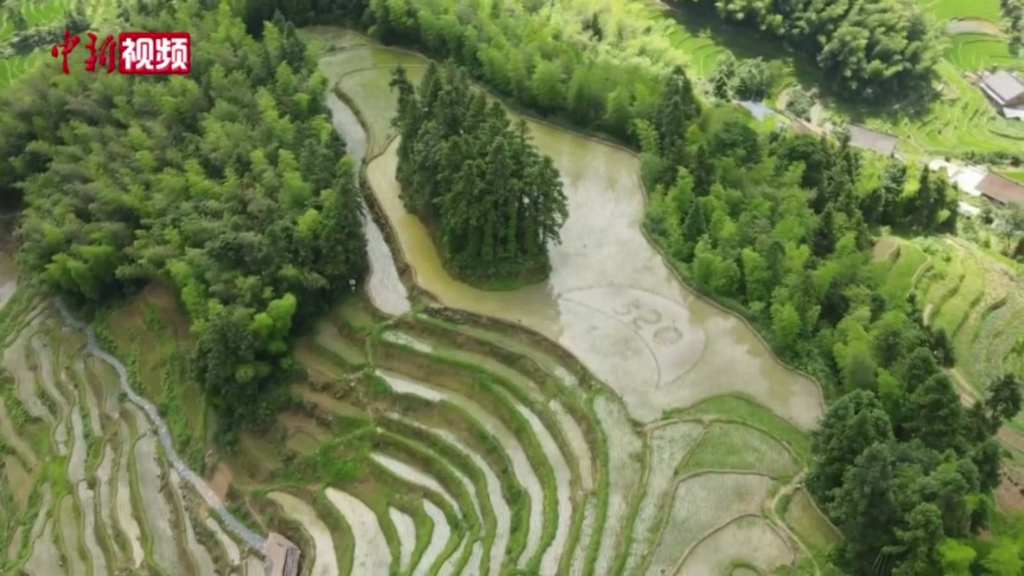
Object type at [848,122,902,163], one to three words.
house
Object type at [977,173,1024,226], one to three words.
house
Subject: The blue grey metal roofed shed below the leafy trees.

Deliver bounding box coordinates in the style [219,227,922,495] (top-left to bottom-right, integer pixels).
[747,100,791,121]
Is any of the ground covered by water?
Yes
